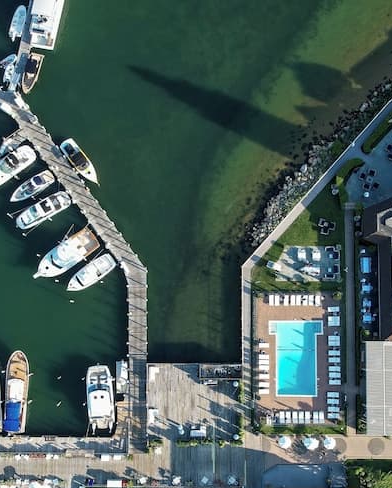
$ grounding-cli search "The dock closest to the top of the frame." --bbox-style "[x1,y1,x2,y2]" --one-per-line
[10,0,40,94]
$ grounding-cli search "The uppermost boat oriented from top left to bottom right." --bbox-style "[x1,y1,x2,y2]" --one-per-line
[60,138,99,184]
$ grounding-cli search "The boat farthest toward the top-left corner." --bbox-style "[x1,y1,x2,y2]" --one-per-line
[8,5,25,42]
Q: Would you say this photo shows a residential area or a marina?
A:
marina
